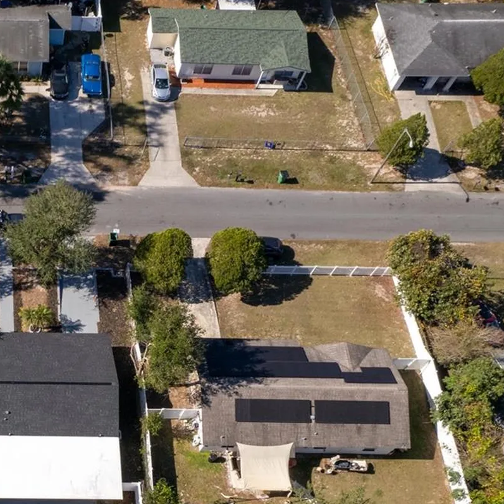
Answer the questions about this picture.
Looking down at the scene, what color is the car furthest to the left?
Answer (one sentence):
From above, the car furthest to the left appears black.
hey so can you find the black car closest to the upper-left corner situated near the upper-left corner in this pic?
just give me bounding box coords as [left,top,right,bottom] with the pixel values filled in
[49,66,71,103]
